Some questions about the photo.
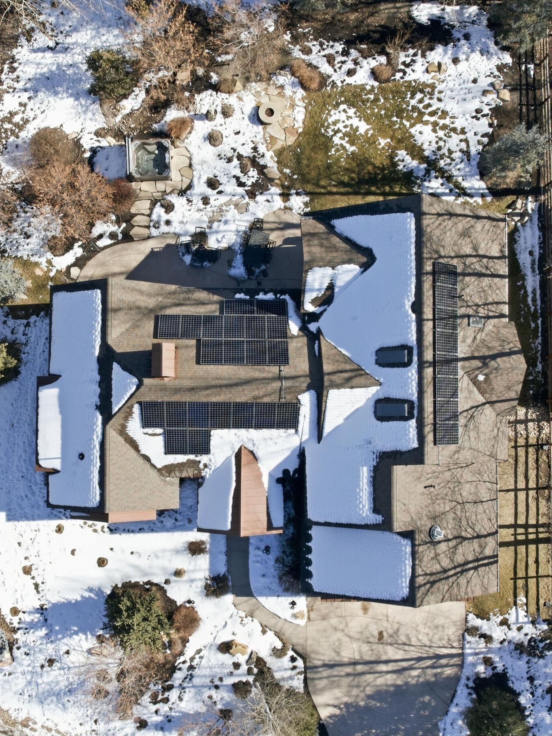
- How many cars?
zero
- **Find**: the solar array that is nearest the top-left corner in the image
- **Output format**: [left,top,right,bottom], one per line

[159,299,288,365]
